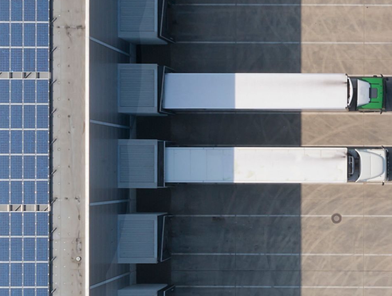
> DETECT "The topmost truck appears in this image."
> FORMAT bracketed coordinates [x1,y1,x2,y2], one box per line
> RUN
[165,70,391,114]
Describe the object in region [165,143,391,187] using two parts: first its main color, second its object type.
white truck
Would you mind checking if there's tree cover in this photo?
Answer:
No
